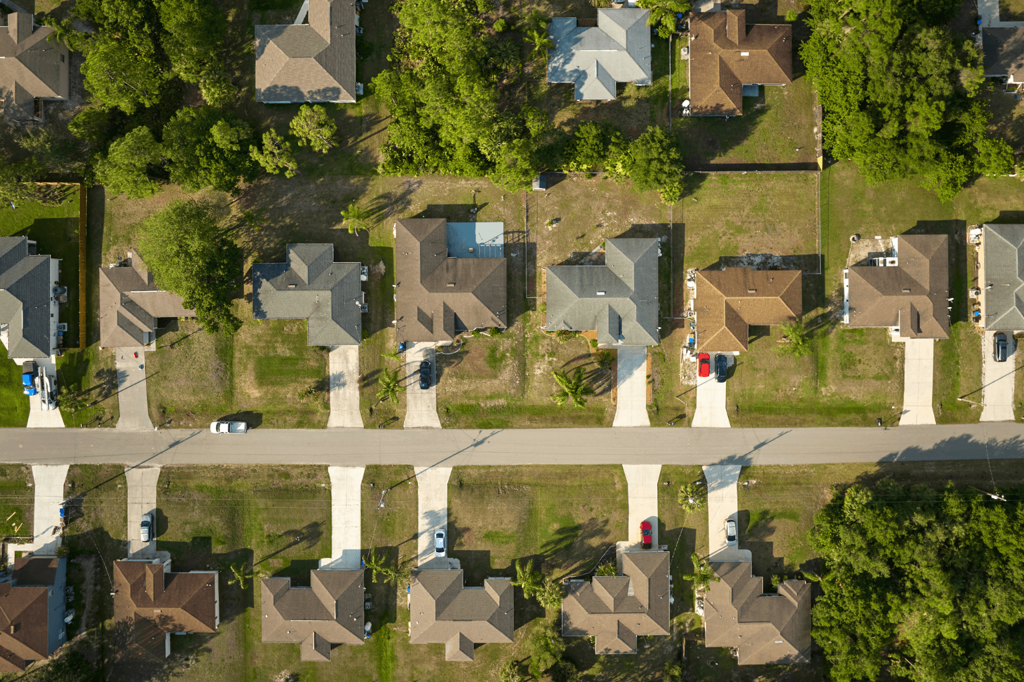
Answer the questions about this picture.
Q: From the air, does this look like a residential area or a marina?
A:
residential area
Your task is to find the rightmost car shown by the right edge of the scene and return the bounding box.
[992,333,1010,362]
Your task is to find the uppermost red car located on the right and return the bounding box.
[698,353,712,377]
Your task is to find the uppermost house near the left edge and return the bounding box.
[0,11,77,122]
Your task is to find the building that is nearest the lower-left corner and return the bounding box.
[0,554,67,672]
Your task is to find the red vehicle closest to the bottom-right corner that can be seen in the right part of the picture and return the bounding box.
[639,521,653,550]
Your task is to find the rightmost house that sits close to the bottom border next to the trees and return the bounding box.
[703,559,812,666]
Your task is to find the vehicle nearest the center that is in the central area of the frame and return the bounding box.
[418,361,431,389]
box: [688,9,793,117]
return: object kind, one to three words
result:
house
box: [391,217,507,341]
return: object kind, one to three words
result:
house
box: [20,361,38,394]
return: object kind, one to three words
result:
vehicle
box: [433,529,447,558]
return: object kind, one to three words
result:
car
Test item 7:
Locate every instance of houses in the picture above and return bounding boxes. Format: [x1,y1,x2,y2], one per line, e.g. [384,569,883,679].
[546,238,661,345]
[252,243,362,345]
[561,550,670,654]
[844,234,954,338]
[688,9,793,117]
[0,236,60,359]
[98,246,194,348]
[391,217,507,341]
[0,11,77,122]
[692,266,802,351]
[975,26,1024,84]
[547,8,651,101]
[254,0,357,105]
[976,223,1024,330]
[262,566,365,660]
[107,558,219,661]
[411,566,515,660]
[703,559,812,666]
[0,554,67,672]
